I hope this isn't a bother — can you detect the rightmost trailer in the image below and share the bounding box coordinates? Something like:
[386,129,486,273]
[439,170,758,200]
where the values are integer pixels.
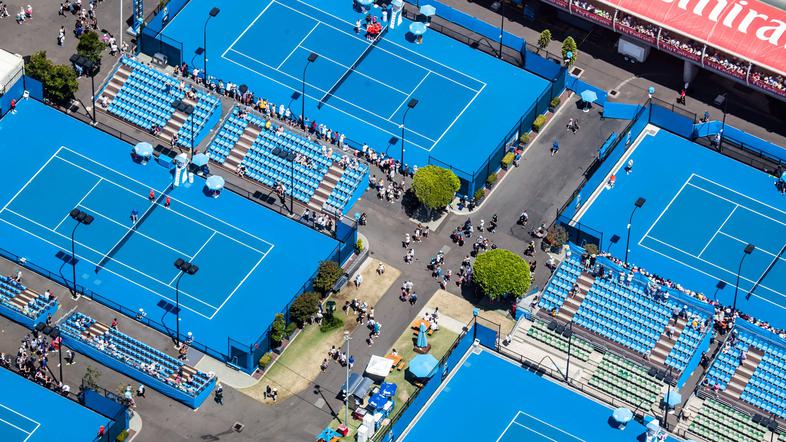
[609,33,651,64]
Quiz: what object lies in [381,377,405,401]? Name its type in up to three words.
umbrella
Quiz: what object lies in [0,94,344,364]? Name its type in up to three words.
tennis court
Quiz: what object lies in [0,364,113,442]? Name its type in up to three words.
tennis court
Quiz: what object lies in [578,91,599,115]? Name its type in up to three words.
umbrella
